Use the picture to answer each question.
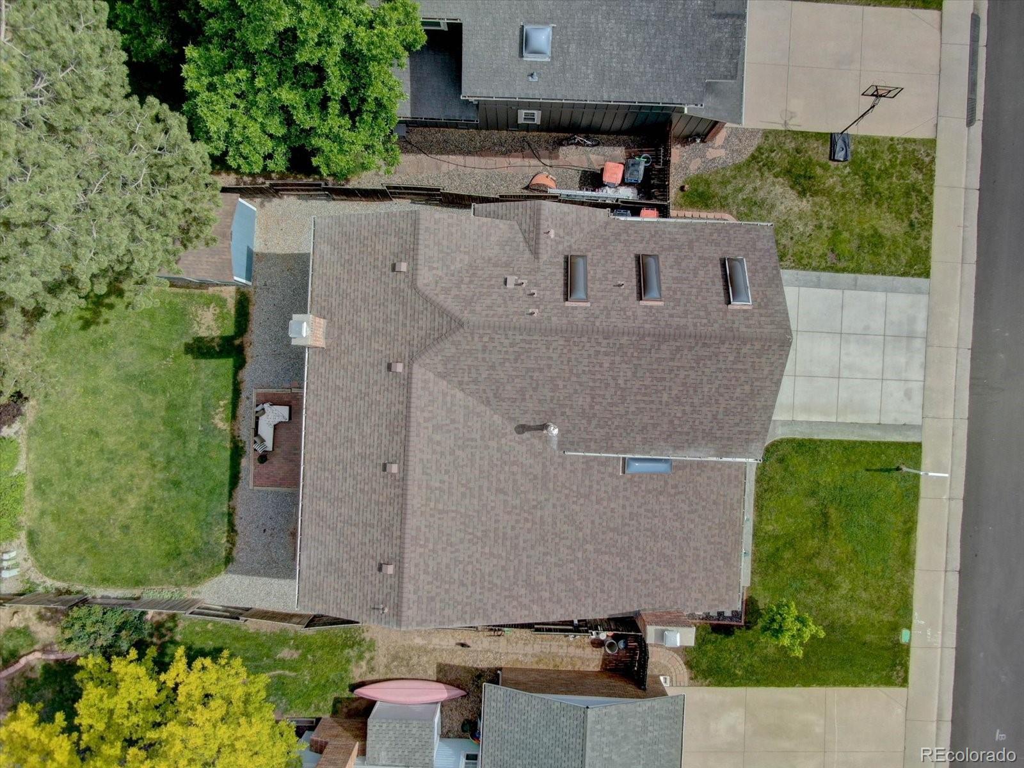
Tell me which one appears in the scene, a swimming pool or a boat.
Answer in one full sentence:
This aerial view contains a boat.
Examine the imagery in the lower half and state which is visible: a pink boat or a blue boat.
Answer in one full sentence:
There is a pink boat in the lower half.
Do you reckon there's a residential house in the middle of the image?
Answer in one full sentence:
Yes, I can see a residential house in the middle of the image.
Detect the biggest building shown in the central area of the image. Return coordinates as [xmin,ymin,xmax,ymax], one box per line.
[287,201,793,648]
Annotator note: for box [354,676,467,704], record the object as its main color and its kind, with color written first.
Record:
pink boat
